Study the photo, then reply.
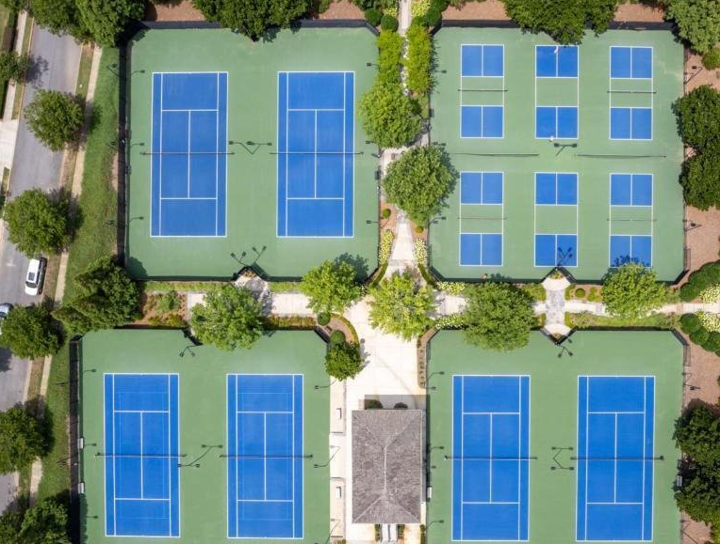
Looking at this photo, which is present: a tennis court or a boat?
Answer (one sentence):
Of the two, only a tennis court appears.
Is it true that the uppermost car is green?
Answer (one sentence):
No, the uppermost car is white.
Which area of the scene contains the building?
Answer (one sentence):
The building is in the bottom part of the image.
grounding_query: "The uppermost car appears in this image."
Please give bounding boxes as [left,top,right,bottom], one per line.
[21,257,43,295]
